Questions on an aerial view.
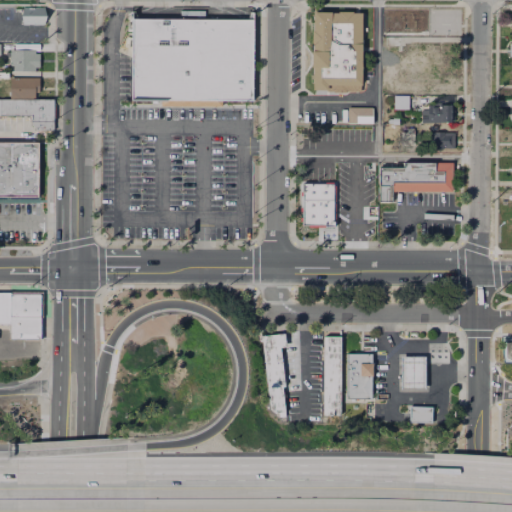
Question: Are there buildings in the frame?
Yes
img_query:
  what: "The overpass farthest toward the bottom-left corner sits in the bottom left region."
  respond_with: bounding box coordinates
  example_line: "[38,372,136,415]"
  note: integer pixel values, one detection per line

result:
[18,438,145,512]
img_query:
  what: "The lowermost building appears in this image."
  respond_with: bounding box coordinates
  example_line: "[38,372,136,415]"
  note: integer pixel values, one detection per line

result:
[410,405,434,424]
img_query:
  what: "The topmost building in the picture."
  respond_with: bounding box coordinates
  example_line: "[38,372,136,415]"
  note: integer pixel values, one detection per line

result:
[22,8,48,26]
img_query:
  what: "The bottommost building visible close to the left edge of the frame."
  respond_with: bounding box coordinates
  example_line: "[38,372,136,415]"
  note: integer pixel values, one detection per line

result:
[0,292,42,340]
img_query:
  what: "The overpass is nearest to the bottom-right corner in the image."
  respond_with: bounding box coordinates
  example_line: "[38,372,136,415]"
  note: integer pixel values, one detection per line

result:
[434,452,512,512]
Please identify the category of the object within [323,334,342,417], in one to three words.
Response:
building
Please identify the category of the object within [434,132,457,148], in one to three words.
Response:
house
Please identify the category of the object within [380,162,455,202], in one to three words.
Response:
building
